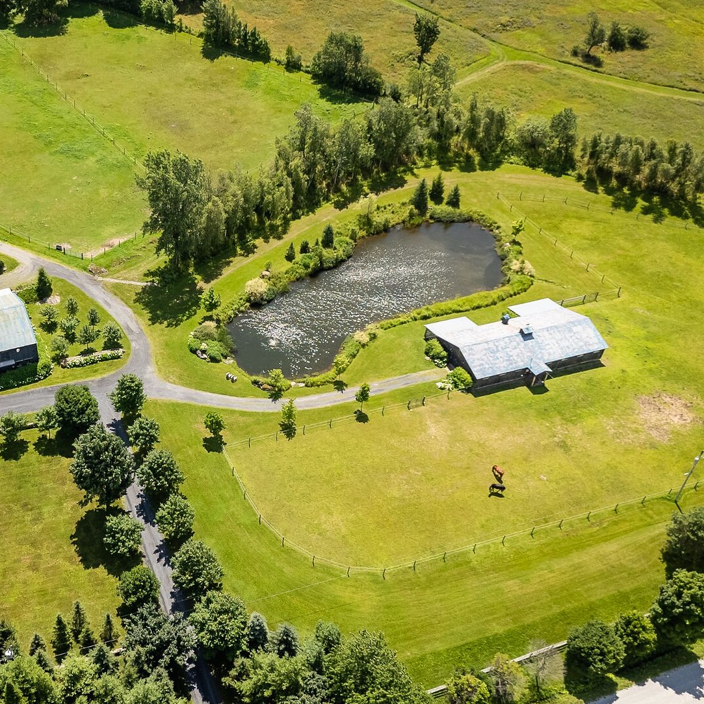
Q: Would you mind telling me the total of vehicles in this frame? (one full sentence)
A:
There are no vehicles in the image.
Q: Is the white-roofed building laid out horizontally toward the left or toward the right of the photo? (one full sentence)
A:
The white-roofed building laid out horizontally appears in the right half of the scene.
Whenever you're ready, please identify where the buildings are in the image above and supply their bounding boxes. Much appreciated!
[424,298,609,391]
[0,288,38,374]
